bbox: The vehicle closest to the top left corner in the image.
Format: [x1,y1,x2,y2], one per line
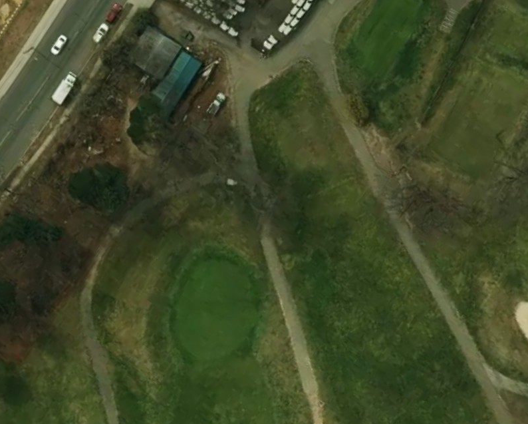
[52,34,68,56]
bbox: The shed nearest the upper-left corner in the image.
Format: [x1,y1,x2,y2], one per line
[131,26,183,79]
